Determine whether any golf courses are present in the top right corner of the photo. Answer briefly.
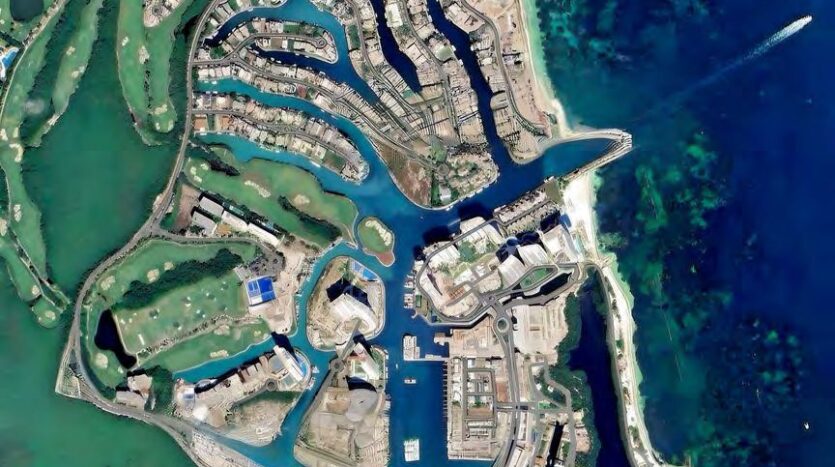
No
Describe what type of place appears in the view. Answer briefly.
port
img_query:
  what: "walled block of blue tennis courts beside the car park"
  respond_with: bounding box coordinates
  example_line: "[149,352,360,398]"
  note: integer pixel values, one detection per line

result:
[245,274,276,307]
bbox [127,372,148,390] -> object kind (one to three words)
building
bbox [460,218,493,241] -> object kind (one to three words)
building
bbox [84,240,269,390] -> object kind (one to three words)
golf course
